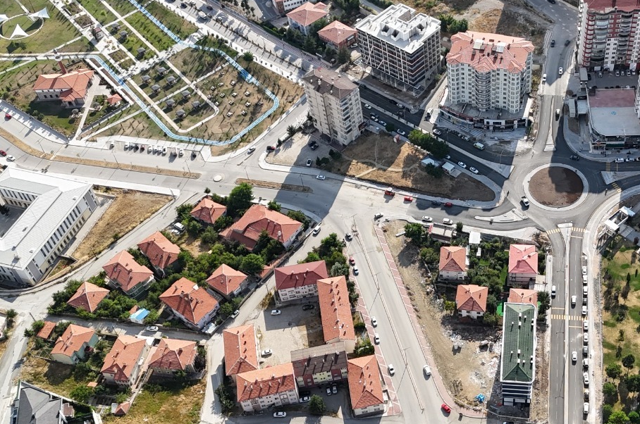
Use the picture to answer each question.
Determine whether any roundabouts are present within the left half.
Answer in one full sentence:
No, no roundabout can be made out within the left half.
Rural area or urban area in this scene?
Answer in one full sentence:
The area shown here is urban.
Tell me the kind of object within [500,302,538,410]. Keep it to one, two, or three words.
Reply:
building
